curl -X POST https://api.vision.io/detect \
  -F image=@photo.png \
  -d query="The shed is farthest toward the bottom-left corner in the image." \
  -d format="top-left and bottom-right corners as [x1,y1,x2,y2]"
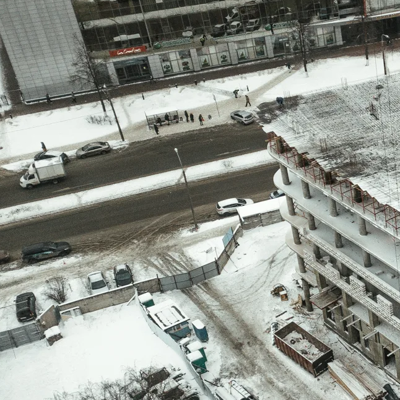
[43,325,66,346]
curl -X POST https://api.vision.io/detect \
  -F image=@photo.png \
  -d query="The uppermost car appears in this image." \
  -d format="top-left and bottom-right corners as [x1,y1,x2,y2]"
[227,108,257,124]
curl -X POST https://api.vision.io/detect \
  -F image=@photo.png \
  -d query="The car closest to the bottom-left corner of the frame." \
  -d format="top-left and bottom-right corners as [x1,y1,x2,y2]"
[14,291,38,322]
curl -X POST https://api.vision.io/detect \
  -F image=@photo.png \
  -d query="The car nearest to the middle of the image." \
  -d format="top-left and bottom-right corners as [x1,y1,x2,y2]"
[216,195,253,215]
